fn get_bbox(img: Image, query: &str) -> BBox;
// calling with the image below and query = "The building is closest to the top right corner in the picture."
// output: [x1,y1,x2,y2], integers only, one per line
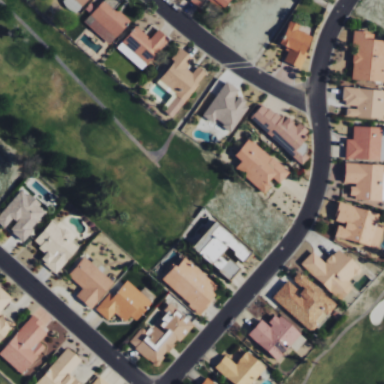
[353,30,384,82]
